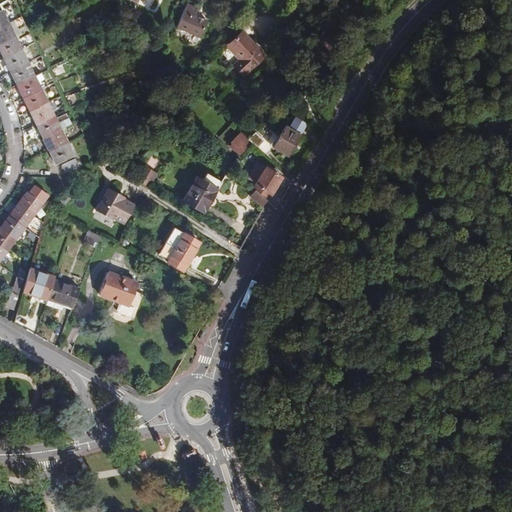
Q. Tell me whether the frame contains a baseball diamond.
No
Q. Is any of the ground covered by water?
No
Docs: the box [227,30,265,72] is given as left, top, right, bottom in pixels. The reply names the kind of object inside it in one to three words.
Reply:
house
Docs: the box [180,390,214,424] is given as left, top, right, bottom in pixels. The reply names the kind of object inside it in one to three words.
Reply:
roundabout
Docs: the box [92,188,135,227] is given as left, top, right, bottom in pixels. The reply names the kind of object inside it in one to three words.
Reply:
house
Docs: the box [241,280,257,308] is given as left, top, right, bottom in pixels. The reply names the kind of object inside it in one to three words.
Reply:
vehicle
